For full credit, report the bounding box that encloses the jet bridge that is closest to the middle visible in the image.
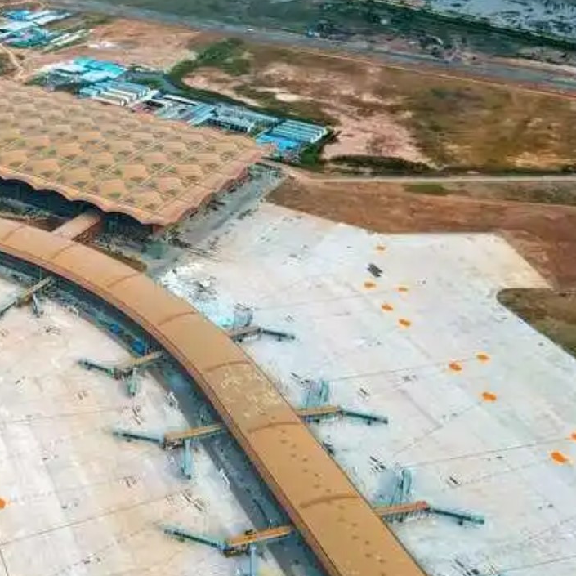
[227,312,294,345]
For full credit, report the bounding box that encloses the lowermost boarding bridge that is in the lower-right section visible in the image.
[373,470,486,530]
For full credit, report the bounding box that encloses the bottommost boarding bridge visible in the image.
[163,525,302,576]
